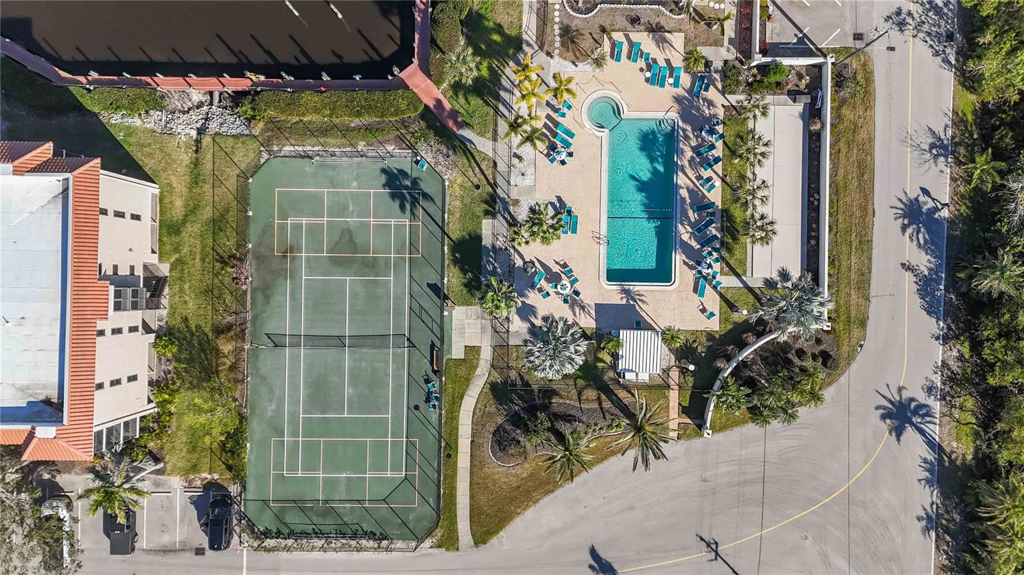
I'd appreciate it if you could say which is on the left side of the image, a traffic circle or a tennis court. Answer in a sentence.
You can see a tennis court on the left side of the image.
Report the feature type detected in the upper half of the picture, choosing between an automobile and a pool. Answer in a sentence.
Looking in the upper half of the picture, you will find a pool.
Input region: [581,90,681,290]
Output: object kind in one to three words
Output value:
swimming pool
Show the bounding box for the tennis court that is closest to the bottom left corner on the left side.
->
[244,157,445,541]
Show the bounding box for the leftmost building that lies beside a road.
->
[0,140,176,463]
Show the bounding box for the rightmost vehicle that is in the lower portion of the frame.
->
[204,491,233,545]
